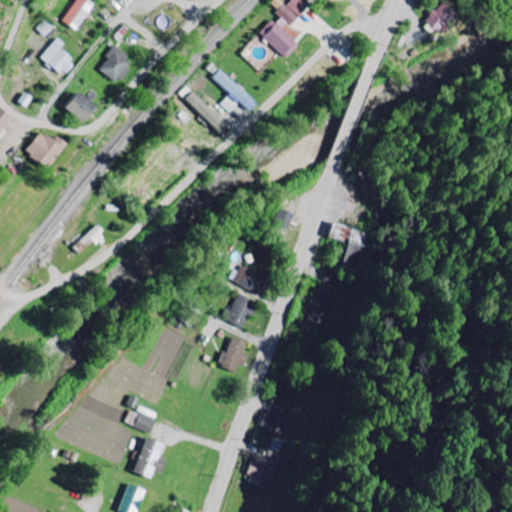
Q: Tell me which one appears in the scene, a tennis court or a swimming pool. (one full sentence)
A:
Of the two, only a swimming pool appears.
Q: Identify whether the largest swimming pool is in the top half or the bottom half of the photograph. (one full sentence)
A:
The largest swimming pool sits in the top half of the picture.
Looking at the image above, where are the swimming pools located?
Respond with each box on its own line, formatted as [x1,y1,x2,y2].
[230,250,242,263]
[241,38,274,72]
[154,14,170,30]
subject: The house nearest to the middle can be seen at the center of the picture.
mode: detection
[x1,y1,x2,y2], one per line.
[229,265,256,291]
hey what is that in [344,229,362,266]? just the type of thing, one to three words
building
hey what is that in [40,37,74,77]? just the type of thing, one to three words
house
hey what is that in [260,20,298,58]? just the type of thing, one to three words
house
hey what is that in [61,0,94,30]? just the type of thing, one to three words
barn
